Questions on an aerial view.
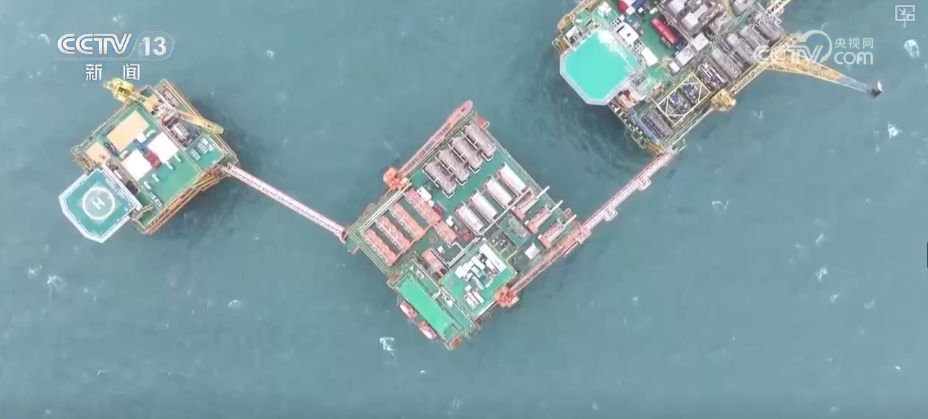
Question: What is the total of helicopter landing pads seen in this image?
2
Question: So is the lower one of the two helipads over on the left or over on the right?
left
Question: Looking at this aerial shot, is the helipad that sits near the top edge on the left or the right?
right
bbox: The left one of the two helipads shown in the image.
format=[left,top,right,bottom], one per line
[60,157,149,243]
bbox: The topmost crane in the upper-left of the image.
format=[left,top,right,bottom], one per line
[104,83,225,132]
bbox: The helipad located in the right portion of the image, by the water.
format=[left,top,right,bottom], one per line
[560,18,648,106]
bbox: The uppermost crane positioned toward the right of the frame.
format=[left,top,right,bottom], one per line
[555,0,594,34]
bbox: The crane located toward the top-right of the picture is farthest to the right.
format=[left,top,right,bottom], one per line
[709,66,759,113]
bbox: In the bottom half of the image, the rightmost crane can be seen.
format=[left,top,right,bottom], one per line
[493,232,577,310]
